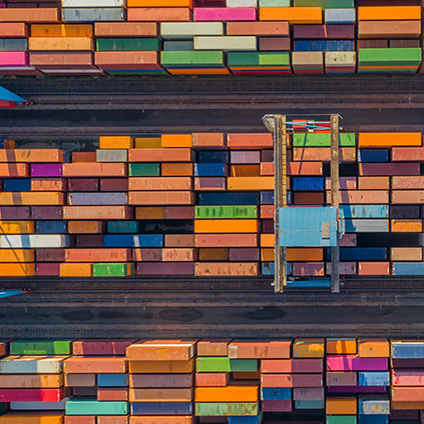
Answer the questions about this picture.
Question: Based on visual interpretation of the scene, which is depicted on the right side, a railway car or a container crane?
container crane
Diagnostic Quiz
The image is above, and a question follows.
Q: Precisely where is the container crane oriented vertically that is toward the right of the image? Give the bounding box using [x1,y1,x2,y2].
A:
[268,109,346,288]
